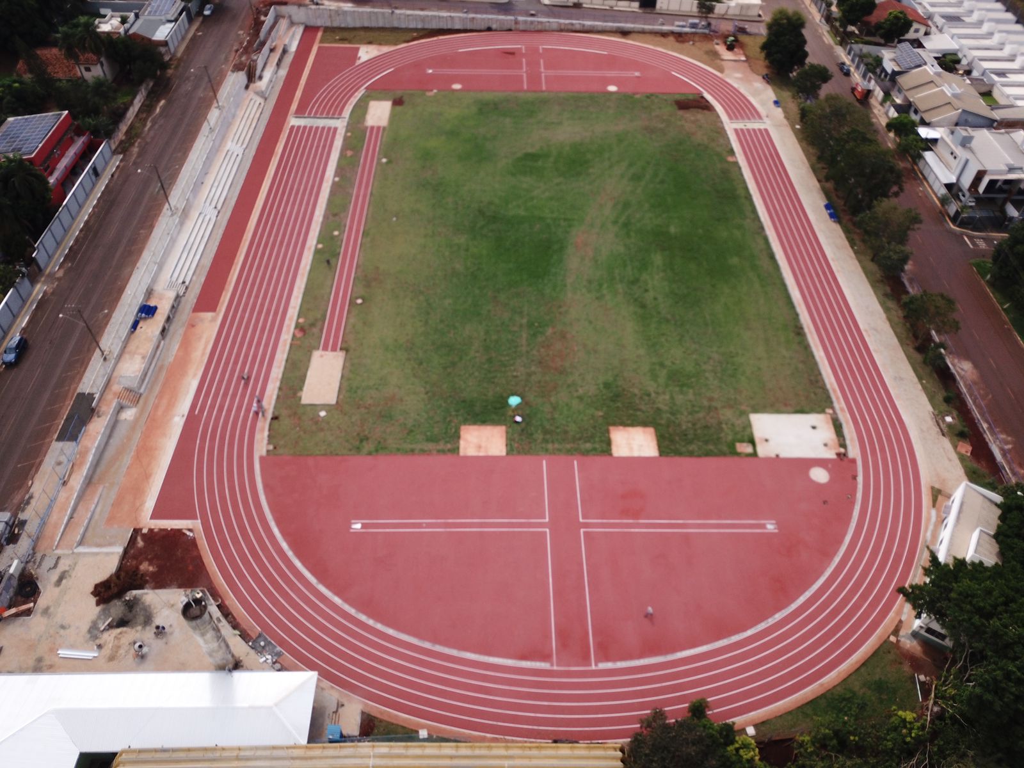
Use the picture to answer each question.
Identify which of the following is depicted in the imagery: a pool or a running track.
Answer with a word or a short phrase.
running track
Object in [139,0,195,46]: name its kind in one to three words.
house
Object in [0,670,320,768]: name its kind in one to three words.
building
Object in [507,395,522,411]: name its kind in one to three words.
umbrella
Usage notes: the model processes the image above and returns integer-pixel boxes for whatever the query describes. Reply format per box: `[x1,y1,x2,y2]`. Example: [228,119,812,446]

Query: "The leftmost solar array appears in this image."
[0,113,63,151]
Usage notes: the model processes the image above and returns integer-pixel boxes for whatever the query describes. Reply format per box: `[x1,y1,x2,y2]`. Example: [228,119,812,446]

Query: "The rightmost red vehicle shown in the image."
[853,78,871,103]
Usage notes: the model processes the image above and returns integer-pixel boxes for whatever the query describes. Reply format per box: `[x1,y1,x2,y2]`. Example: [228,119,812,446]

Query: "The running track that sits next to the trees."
[196,31,923,740]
